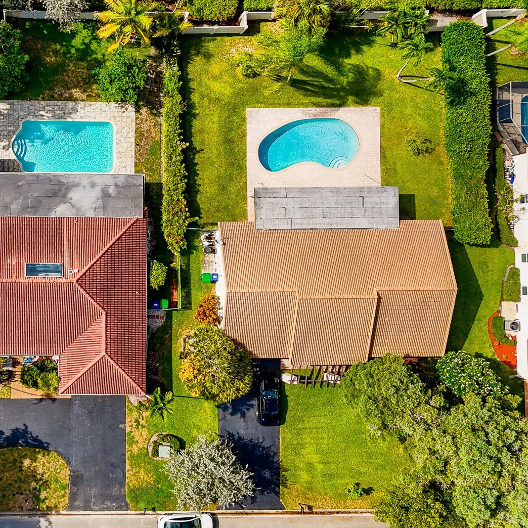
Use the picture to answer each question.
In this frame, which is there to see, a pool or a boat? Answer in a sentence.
This aerial view contains a pool.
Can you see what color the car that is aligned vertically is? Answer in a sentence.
The car that is aligned vertically is black.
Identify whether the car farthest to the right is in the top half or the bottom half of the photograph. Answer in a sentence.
Seen from above, the car farthest to the right lies in the bottom half of the view.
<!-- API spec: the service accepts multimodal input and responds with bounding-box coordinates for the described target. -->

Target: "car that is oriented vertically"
[258,369,286,429]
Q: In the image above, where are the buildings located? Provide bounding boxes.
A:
[515,147,528,389]
[0,173,148,395]
[215,186,459,367]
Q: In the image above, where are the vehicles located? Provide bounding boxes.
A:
[258,369,286,429]
[159,514,215,528]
